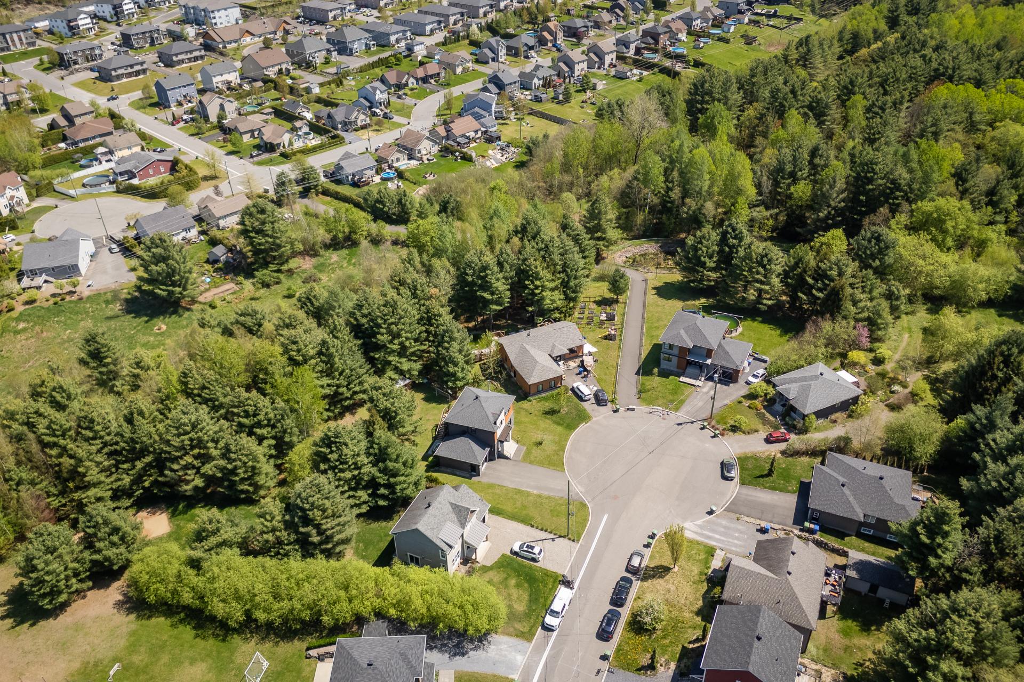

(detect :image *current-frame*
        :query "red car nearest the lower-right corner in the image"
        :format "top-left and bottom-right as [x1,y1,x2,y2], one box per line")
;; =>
[766,432,793,446]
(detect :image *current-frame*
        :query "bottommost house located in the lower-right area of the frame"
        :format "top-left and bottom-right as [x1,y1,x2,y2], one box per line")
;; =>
[698,605,818,682]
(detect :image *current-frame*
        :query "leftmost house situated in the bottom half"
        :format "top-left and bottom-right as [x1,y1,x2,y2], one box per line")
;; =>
[330,621,435,682]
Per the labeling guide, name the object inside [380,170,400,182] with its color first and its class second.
blue swimming pool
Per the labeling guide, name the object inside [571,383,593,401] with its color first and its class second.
white car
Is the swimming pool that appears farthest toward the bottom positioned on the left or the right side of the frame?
right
